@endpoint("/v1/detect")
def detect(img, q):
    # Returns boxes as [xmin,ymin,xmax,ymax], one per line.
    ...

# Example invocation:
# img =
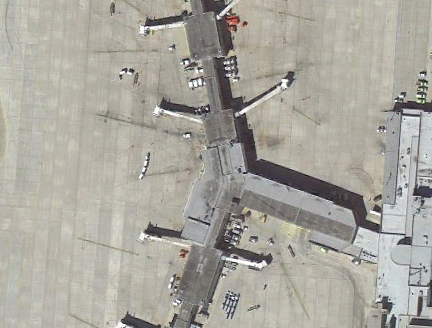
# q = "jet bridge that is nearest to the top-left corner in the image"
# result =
[140,21,185,38]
